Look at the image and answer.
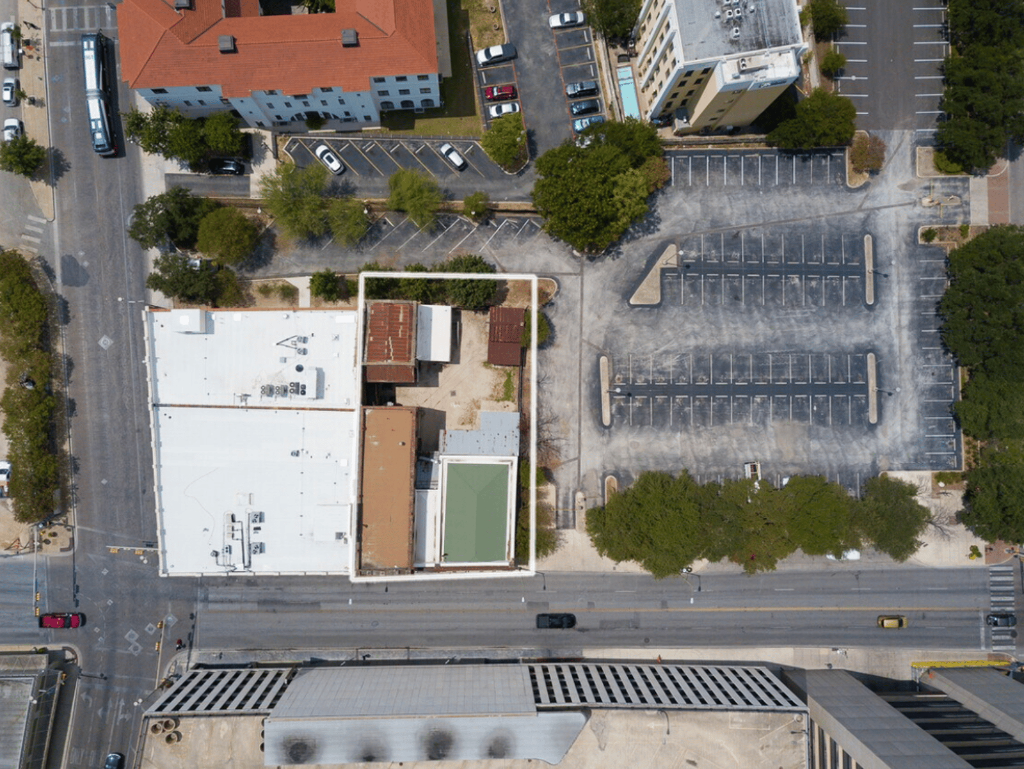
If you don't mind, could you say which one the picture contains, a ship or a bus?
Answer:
bus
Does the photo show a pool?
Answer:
Yes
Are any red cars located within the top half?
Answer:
Yes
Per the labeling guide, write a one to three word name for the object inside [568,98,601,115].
car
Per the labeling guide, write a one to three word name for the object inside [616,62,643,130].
swimming pool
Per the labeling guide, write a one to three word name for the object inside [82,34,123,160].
bus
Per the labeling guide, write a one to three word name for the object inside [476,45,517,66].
truck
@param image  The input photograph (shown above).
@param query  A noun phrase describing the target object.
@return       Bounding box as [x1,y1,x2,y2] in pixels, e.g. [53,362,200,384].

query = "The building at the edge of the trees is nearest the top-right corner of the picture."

[632,0,809,134]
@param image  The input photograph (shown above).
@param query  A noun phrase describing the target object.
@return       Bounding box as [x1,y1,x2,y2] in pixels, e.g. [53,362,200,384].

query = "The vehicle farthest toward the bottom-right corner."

[985,613,1015,629]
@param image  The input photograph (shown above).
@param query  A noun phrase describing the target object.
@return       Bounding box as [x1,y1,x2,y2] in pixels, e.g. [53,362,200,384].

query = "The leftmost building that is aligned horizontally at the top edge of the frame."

[118,0,452,135]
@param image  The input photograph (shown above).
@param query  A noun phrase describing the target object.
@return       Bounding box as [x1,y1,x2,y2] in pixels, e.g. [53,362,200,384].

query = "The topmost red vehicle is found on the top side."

[485,84,517,102]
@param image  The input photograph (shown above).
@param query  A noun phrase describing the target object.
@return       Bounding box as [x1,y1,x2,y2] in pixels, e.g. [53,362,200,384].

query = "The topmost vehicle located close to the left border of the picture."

[0,24,25,74]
